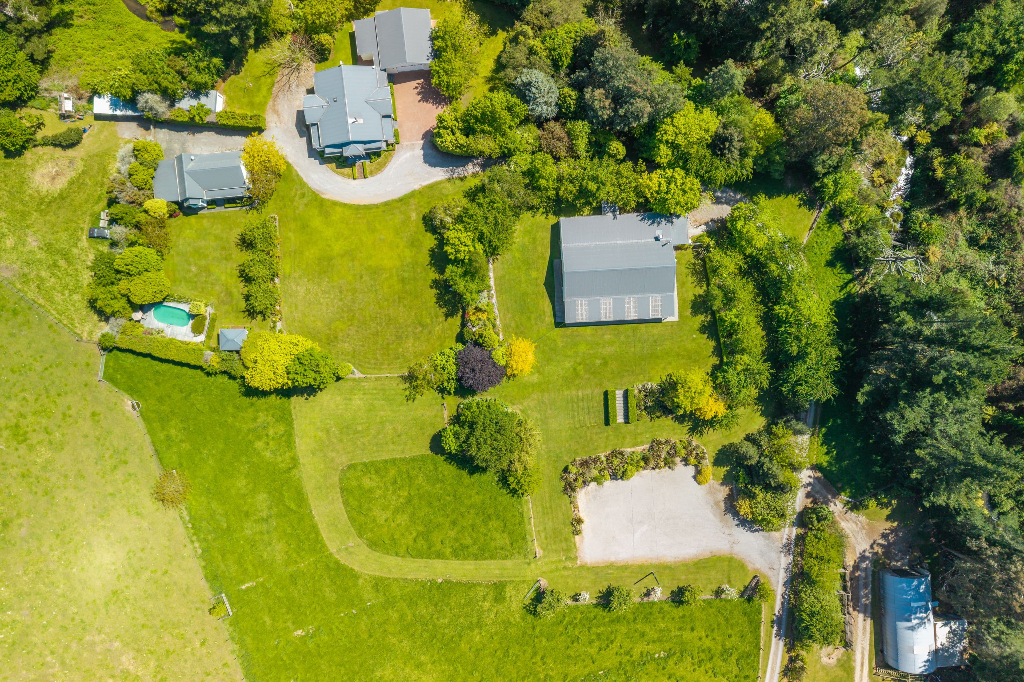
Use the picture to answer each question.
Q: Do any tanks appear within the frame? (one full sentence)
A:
No, there appears to be no tank in this shot.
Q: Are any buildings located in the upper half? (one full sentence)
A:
Yes, a building is visible in the upper half.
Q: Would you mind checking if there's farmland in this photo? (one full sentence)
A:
Yes, there's farmland in this view.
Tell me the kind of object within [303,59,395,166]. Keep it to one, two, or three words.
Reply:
house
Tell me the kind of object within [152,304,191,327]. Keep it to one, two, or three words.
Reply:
swimming pool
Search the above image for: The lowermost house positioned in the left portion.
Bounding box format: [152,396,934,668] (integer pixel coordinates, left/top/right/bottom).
[153,150,250,211]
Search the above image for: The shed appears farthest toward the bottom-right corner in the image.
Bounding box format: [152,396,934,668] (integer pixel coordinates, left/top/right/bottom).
[879,569,969,672]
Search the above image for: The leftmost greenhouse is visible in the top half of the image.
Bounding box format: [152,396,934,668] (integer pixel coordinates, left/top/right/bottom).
[59,92,77,117]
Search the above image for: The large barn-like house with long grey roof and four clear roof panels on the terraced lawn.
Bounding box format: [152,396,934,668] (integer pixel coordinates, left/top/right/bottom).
[554,202,689,323]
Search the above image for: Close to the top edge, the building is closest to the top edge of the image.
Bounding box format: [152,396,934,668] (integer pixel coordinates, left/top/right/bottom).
[354,7,436,87]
